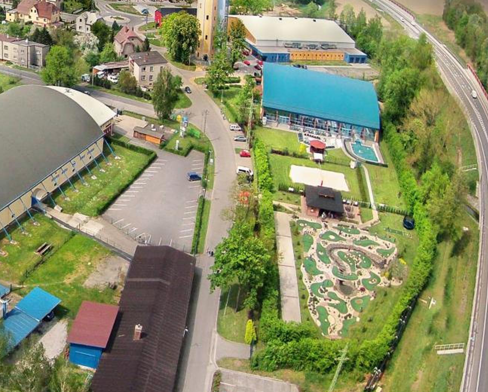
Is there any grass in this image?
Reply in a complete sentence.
Yes, some grass is visible.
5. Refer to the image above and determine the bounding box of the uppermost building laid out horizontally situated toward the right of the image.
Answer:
[229,14,368,64]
